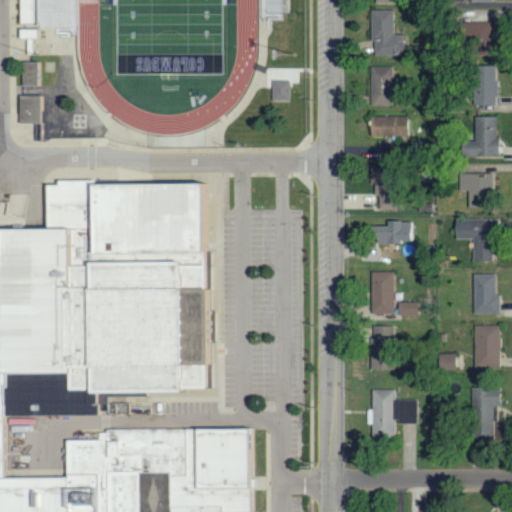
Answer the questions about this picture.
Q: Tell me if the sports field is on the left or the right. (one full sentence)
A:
You can find the sports field on the left side of the picture.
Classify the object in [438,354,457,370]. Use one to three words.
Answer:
shed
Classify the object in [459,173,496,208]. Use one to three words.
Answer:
house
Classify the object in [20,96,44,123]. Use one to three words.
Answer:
building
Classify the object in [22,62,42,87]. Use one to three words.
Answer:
building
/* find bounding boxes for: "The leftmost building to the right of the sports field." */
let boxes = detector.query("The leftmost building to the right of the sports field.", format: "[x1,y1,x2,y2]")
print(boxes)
[272,80,291,100]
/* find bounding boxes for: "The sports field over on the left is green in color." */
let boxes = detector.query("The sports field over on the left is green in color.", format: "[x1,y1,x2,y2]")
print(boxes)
[98,0,238,115]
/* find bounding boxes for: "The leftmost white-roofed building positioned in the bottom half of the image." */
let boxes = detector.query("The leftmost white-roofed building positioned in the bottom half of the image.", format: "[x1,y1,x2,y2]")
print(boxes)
[0,180,259,512]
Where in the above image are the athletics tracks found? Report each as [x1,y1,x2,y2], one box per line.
[80,0,256,134]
